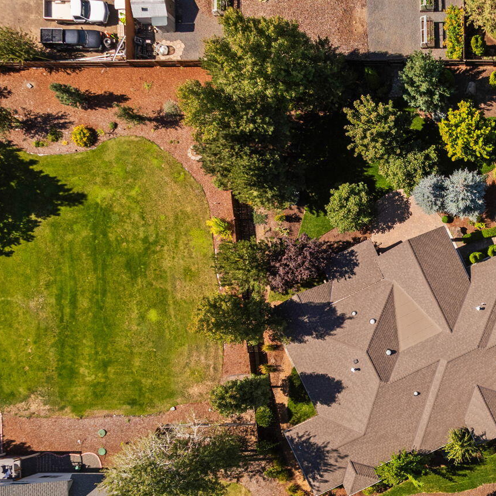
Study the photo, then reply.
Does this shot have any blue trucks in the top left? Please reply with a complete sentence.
No, I can find no blue truck in the top left.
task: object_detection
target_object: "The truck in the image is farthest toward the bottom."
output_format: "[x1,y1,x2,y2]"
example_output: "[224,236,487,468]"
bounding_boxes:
[35,23,102,53]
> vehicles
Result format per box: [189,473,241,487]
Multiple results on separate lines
[35,23,102,53]
[37,0,108,27]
